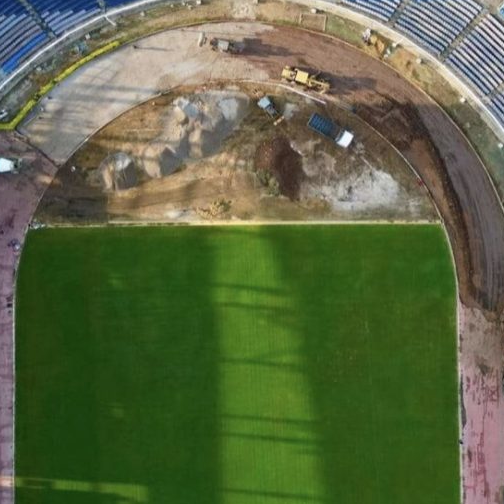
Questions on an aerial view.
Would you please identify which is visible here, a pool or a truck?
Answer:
truck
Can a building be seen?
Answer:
No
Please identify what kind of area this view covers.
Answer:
sports ground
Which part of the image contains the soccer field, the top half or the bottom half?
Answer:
bottom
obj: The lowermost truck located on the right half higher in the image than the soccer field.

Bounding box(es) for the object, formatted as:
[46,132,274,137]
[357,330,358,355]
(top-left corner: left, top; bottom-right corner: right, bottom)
[306,112,355,149]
